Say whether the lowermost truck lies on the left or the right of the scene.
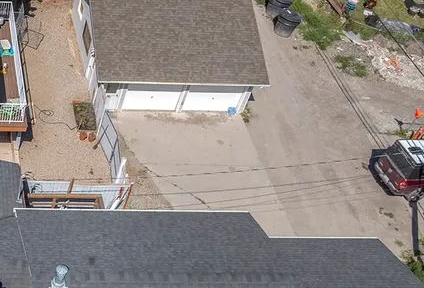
right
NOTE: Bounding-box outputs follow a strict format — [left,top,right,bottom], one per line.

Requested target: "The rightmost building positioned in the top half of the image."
[74,0,271,118]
